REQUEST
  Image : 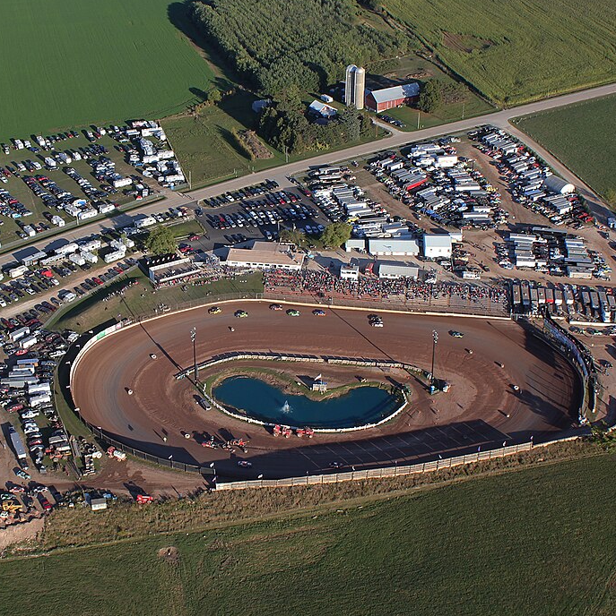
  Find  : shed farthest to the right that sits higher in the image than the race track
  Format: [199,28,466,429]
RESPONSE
[543,168,578,192]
